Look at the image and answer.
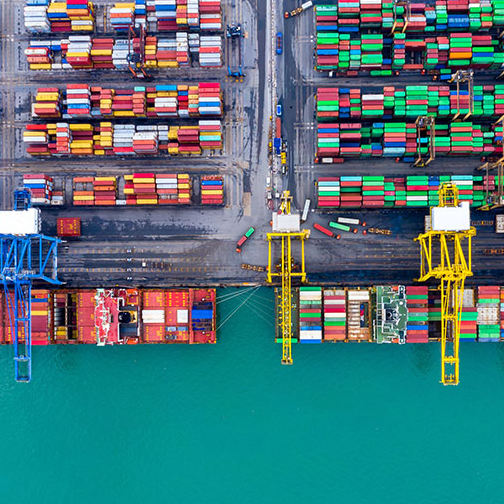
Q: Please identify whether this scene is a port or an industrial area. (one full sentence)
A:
The area seen from above is a port.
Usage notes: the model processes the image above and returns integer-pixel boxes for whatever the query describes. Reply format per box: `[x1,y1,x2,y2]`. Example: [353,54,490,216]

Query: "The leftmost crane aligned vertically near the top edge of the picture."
[128,23,153,80]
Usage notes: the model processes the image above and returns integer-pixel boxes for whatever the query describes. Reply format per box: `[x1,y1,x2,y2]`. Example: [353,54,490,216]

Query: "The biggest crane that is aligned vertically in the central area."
[263,185,309,365]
